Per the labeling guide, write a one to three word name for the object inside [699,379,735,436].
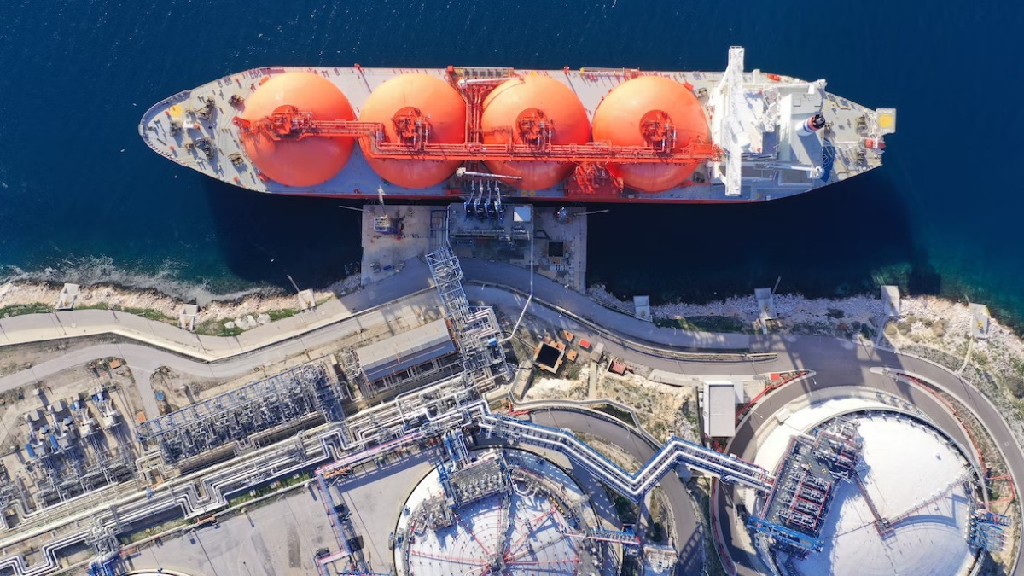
building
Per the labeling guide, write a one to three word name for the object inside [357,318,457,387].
shed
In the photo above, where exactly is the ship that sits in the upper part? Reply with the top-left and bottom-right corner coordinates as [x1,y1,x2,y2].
[137,45,896,205]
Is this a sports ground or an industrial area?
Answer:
industrial area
